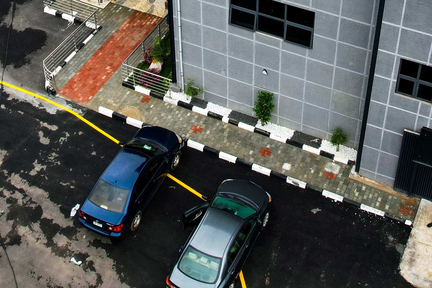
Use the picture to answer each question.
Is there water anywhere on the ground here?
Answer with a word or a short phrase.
No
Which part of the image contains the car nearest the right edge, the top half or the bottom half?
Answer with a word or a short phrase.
bottom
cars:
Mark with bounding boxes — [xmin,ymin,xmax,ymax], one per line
[163,178,273,288]
[72,121,184,248]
